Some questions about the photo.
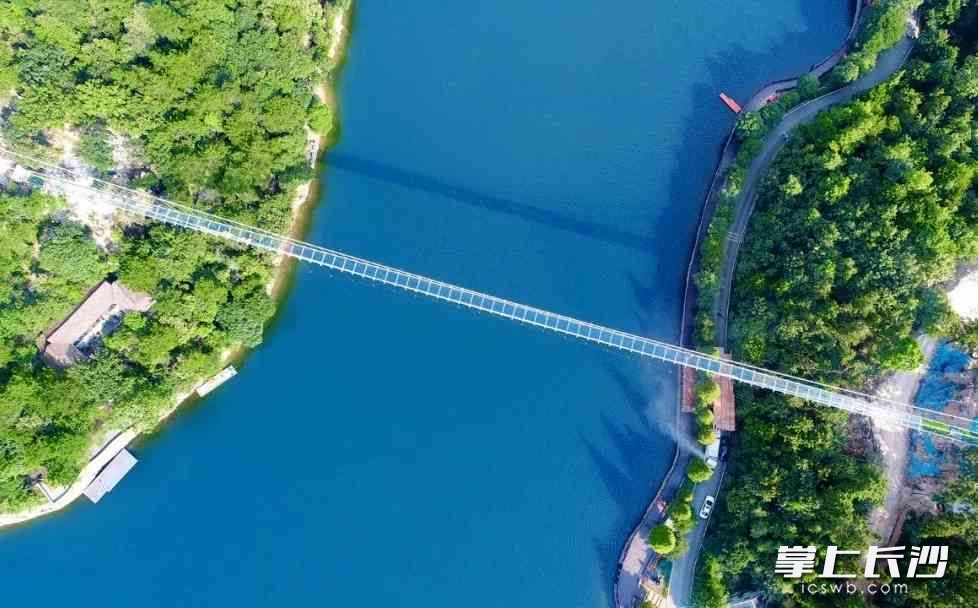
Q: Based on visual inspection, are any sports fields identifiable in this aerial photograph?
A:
No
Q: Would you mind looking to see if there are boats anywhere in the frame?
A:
No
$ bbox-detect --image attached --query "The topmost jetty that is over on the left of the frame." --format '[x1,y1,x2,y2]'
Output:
[189,365,238,400]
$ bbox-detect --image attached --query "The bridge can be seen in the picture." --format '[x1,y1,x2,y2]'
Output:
[0,144,978,443]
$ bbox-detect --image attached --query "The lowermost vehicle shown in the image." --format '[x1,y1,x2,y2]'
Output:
[698,495,714,519]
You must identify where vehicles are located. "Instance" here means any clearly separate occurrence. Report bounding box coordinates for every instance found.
[705,430,721,474]
[698,495,714,519]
